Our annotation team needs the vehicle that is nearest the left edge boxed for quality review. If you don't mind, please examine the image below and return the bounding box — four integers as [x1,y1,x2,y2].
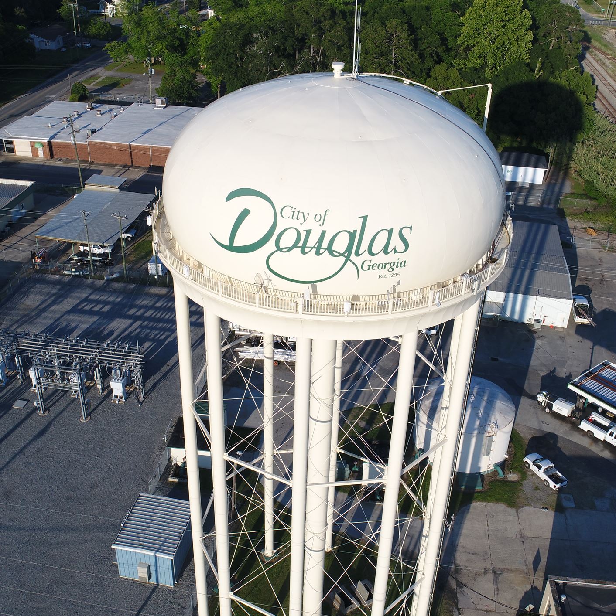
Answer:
[30,239,58,266]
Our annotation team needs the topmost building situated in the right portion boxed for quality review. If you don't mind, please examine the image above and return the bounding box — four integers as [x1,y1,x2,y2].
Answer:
[503,154,548,186]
